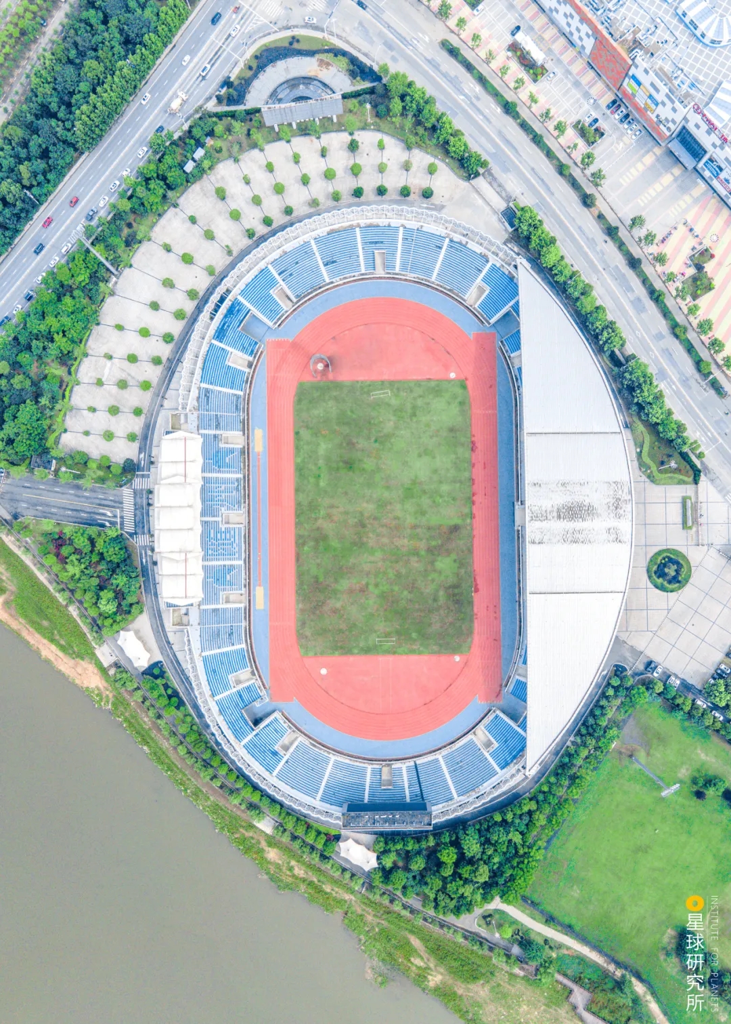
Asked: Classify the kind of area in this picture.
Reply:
sports ground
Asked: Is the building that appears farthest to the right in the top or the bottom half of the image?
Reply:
top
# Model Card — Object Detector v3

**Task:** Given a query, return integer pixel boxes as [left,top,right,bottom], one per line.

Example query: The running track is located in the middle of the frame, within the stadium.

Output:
[247,283,522,764]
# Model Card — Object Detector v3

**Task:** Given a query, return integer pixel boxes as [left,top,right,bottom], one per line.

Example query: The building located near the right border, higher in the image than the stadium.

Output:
[535,0,731,210]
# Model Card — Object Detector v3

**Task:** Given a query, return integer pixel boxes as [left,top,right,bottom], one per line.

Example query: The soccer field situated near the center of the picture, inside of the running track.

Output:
[294,380,474,656]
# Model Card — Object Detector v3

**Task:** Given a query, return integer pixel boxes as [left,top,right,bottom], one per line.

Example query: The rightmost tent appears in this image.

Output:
[339,837,377,871]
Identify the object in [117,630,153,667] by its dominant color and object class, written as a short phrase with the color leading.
white tent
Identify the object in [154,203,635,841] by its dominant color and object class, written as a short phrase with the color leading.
white stadium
